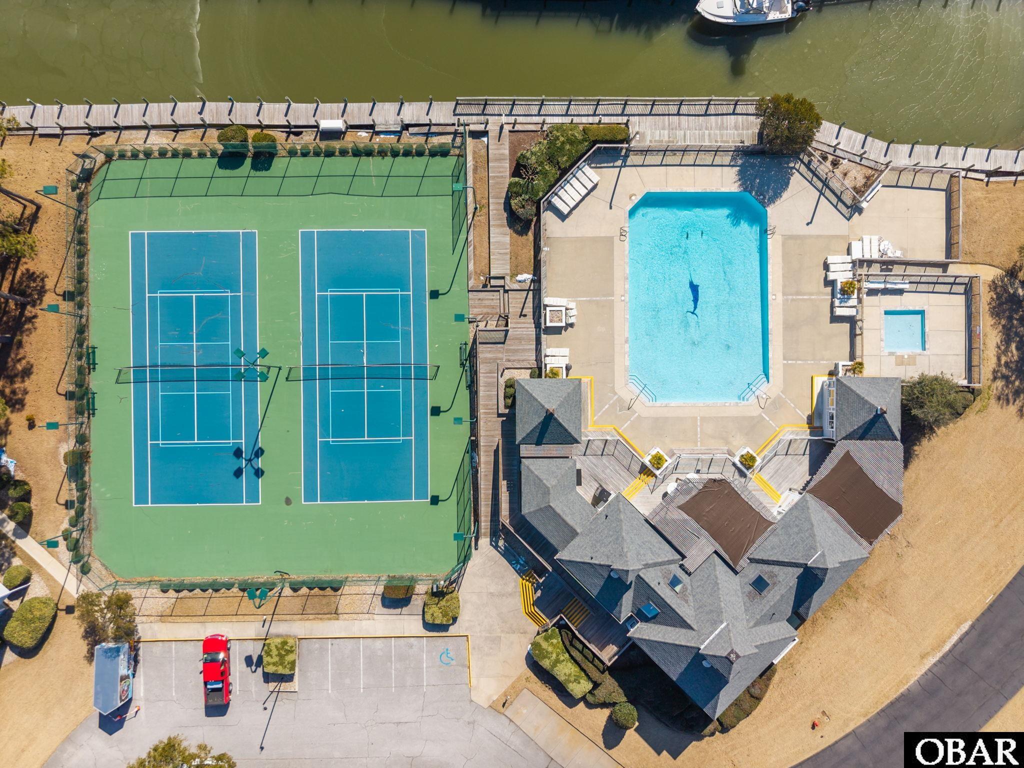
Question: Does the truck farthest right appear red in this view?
Yes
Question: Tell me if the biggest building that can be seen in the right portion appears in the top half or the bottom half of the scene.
bottom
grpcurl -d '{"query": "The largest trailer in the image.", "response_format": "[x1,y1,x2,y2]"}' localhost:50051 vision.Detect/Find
[90,633,137,720]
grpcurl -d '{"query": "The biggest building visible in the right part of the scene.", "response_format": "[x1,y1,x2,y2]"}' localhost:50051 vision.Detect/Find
[521,458,869,720]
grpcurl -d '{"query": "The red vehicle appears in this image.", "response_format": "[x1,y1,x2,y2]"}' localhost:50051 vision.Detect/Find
[199,631,233,705]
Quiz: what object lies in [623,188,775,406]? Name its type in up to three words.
swimming pool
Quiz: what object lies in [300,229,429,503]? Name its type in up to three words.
tennis court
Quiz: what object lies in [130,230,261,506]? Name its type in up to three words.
tennis court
